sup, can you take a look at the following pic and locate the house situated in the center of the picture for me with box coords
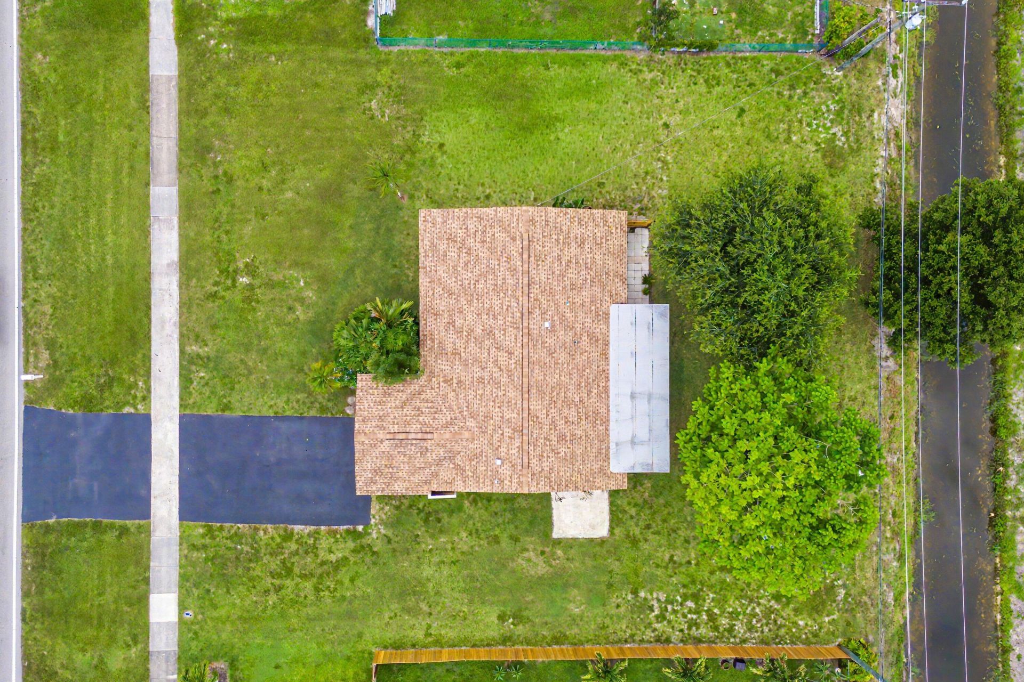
[354,206,628,496]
